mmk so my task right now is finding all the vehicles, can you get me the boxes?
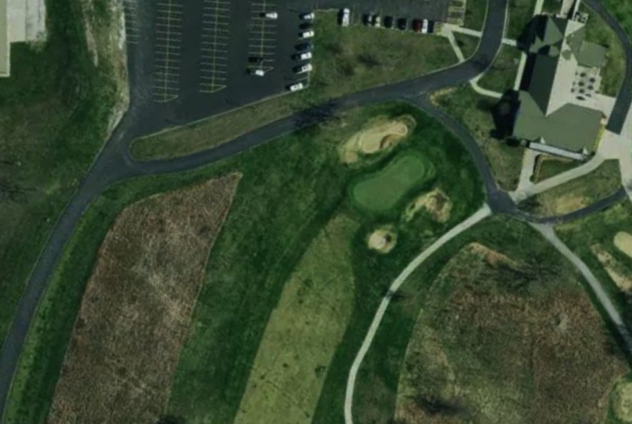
[300,23,312,29]
[248,57,260,62]
[303,31,314,37]
[290,83,303,91]
[302,12,314,20]
[300,52,313,60]
[343,9,349,25]
[415,20,420,32]
[266,12,277,17]
[429,20,434,32]
[301,65,313,72]
[365,13,372,27]
[422,20,427,32]
[252,69,265,75]
[374,15,379,28]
